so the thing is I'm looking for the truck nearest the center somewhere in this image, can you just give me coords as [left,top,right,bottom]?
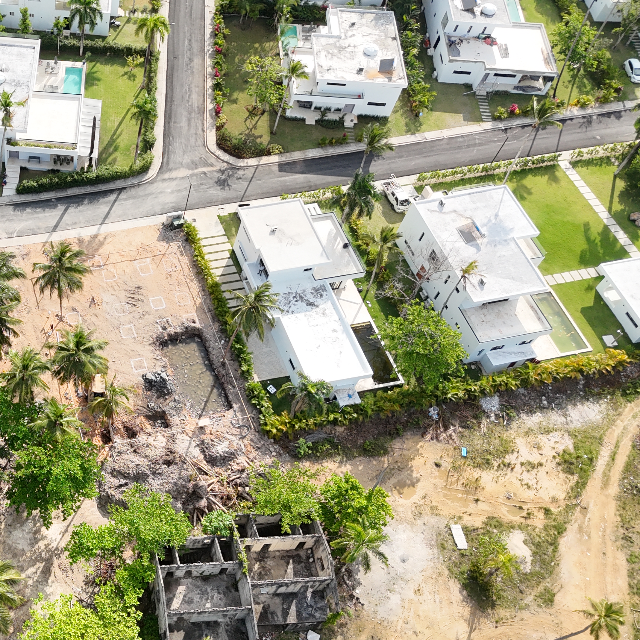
[383,174,413,211]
